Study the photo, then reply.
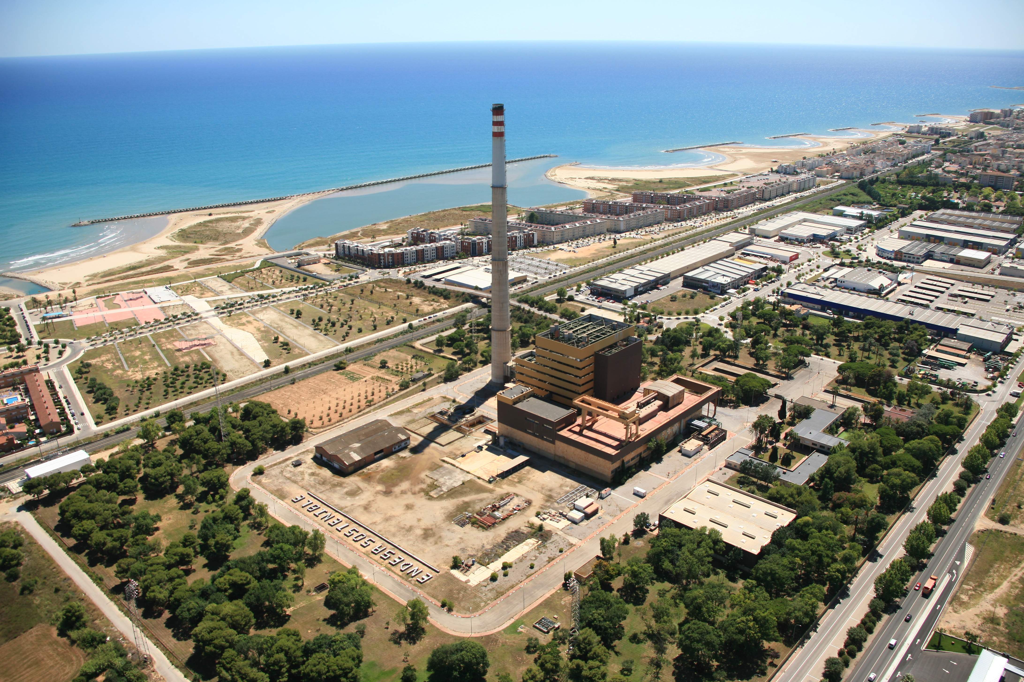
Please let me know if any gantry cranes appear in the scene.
Yes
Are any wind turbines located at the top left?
No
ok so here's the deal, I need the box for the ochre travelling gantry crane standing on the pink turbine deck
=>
[574,387,645,446]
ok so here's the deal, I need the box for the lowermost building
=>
[574,555,601,585]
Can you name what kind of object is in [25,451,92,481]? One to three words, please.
shed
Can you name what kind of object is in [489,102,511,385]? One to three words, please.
chimney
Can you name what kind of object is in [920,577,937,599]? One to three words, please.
vehicle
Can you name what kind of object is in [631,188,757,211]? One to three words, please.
building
